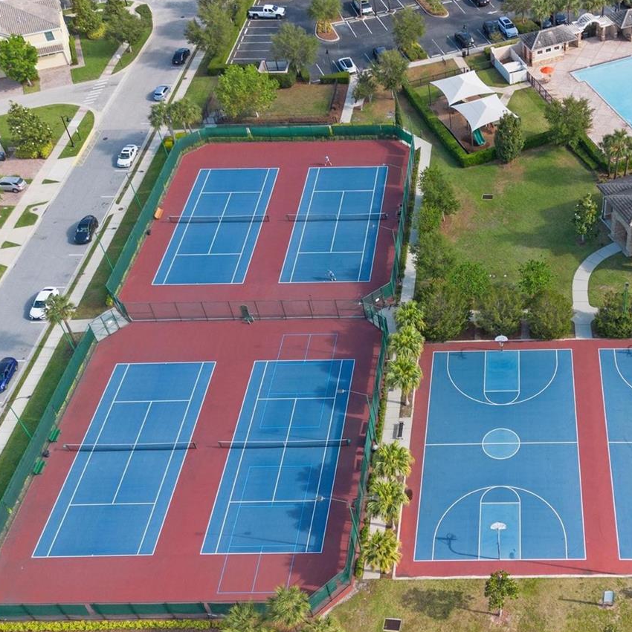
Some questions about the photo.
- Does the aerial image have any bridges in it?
No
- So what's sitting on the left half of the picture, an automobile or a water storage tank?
automobile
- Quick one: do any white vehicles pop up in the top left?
Yes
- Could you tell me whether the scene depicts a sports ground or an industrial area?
sports ground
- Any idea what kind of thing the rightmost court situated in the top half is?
tennis court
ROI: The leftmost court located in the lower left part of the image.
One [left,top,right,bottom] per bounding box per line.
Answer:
[0,321,247,617]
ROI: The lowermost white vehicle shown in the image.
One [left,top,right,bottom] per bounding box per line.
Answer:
[27,283,57,317]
